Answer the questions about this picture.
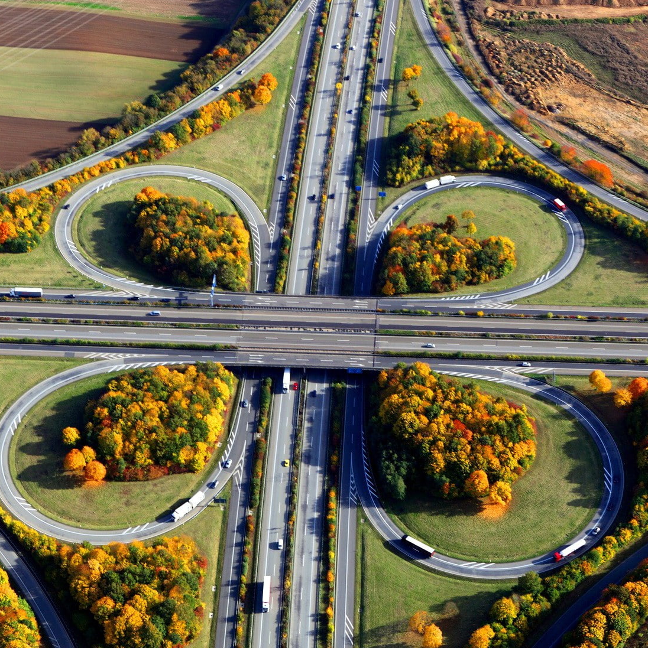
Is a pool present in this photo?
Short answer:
No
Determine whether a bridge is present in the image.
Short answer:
Yes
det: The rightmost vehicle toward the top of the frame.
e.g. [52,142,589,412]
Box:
[554,197,567,212]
